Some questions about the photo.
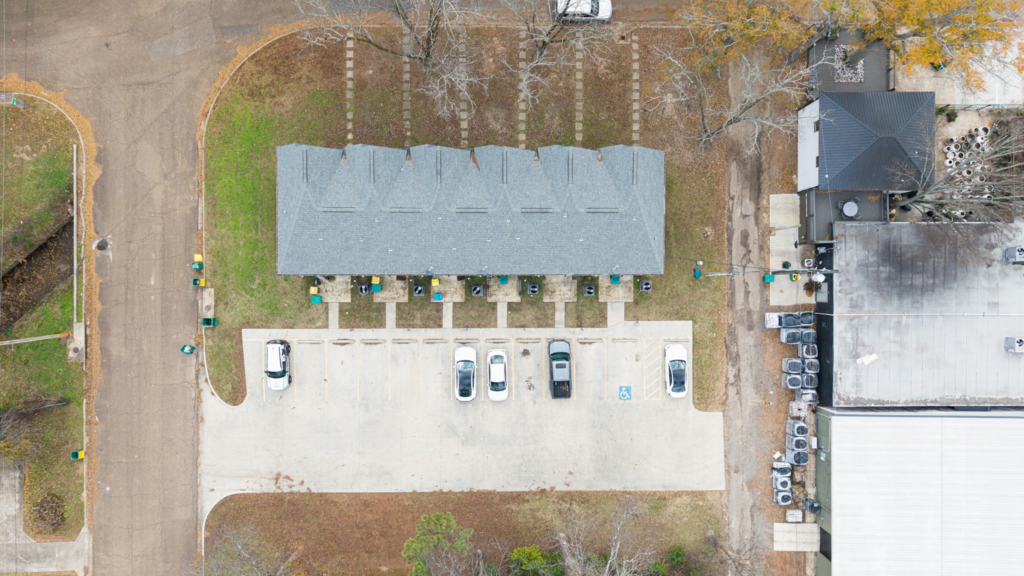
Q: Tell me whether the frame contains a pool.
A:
No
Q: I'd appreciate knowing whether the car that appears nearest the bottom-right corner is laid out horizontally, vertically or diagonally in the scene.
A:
vertically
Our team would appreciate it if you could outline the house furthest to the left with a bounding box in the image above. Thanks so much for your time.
[275,144,666,276]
